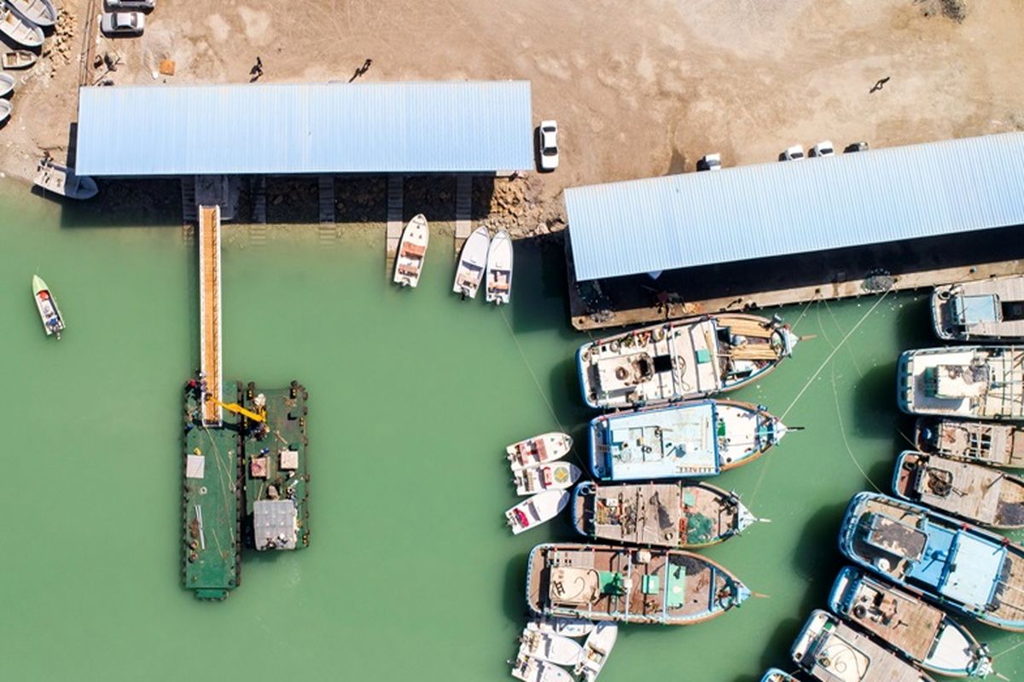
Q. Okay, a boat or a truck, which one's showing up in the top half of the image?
boat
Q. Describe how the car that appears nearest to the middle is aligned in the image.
vertically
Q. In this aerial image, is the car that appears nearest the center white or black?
white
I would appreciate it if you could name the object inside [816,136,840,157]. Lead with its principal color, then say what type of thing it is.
white car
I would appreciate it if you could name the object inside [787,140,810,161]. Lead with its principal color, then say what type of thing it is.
white car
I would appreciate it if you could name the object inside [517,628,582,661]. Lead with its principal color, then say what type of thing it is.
white boat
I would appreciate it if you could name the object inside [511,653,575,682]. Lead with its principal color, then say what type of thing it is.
white boat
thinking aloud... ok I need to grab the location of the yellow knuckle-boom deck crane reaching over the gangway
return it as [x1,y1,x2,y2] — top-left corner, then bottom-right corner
[201,392,270,429]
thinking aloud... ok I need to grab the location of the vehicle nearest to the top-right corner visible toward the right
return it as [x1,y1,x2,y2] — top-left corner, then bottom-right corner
[852,136,872,153]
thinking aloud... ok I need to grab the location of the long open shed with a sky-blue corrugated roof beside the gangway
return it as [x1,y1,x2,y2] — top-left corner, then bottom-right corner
[75,80,534,179]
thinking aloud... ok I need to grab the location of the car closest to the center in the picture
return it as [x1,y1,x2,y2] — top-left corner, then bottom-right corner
[538,117,560,167]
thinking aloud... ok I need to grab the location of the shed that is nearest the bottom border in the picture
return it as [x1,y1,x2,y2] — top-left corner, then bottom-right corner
[563,131,1024,281]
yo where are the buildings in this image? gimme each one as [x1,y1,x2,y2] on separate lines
[563,131,1024,281]
[75,80,534,179]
